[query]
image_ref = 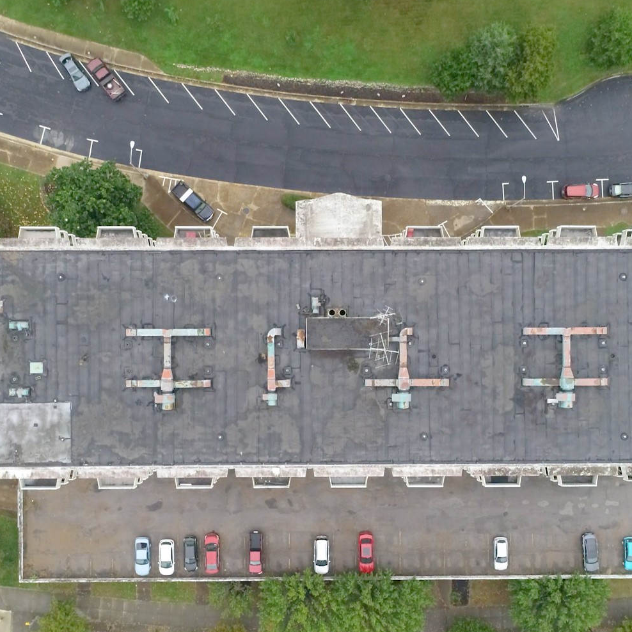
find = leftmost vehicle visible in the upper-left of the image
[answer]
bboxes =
[60,53,91,95]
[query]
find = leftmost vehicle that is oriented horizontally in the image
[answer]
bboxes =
[561,181,598,199]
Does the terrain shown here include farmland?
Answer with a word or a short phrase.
No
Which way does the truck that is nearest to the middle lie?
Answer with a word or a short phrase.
diagonally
